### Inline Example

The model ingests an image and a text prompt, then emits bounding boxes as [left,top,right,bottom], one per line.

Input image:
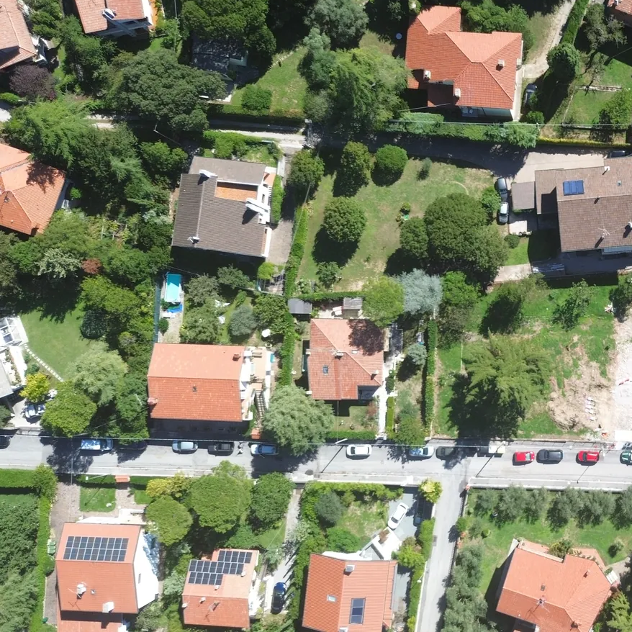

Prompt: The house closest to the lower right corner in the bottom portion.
[490,532,619,632]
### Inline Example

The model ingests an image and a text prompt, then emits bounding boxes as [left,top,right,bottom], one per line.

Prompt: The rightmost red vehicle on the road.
[577,451,599,463]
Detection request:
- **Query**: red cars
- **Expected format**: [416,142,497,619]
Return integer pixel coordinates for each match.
[577,451,599,463]
[515,451,535,462]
